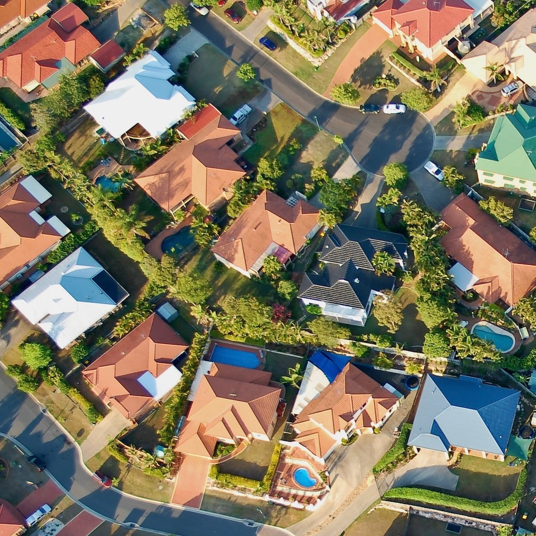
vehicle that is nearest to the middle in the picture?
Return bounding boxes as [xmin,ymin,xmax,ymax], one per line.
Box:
[229,103,251,123]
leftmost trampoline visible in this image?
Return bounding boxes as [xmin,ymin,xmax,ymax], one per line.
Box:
[403,375,421,392]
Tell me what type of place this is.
residential area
